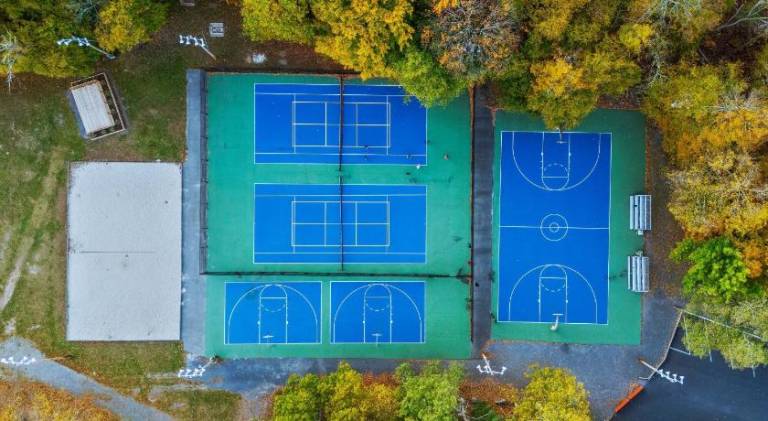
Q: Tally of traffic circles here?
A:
0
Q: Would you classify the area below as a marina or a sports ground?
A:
sports ground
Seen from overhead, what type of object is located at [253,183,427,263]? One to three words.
tennis court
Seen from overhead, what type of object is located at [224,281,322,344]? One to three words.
basketball court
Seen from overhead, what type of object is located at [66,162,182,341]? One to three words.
sports court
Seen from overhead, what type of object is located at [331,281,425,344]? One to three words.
basketball court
